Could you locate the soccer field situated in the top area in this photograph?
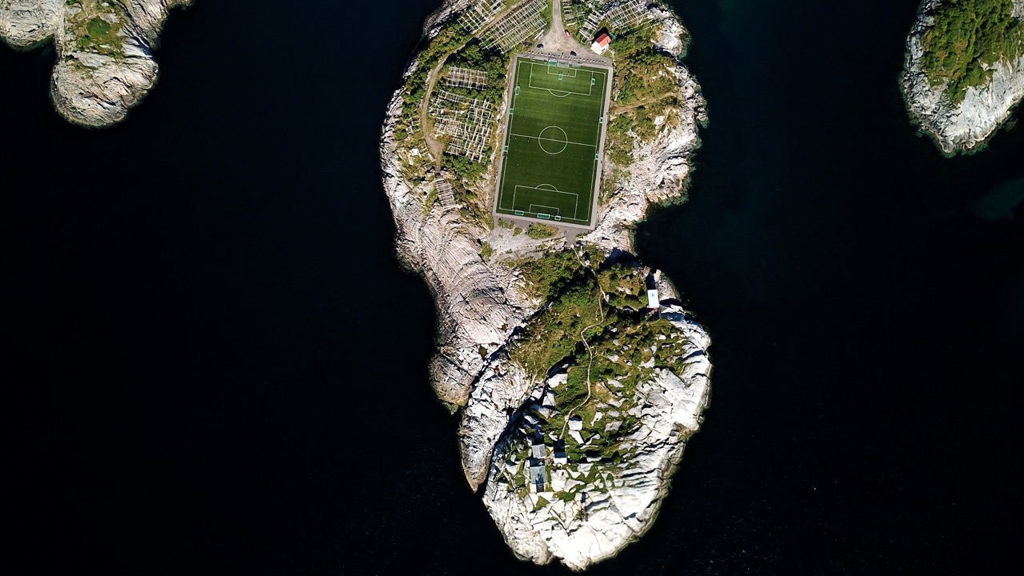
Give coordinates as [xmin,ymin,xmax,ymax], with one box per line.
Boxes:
[492,54,613,229]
